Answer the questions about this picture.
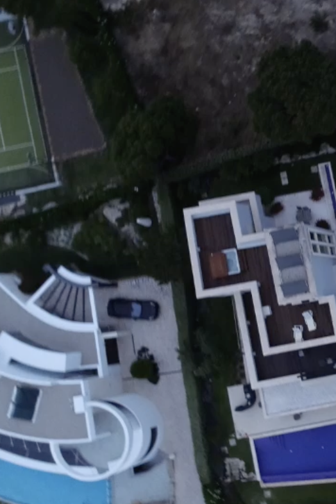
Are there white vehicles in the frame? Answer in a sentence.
No, I find no white vehicle anywhere in the image.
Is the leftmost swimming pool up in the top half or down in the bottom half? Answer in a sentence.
The leftmost swimming pool sits in the bottom half of the picture.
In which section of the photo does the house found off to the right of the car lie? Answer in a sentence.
Look in the right portion of the view to spot the house found off to the right of the car.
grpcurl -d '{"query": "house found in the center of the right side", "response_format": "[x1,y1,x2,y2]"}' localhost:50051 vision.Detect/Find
[183,191,336,418]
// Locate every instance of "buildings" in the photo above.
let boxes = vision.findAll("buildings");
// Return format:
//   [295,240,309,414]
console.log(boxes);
[183,191,336,418]
[0,263,166,482]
